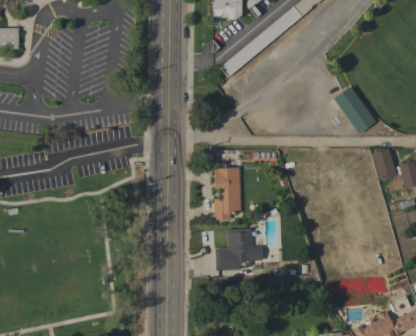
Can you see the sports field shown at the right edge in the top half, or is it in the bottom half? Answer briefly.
top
